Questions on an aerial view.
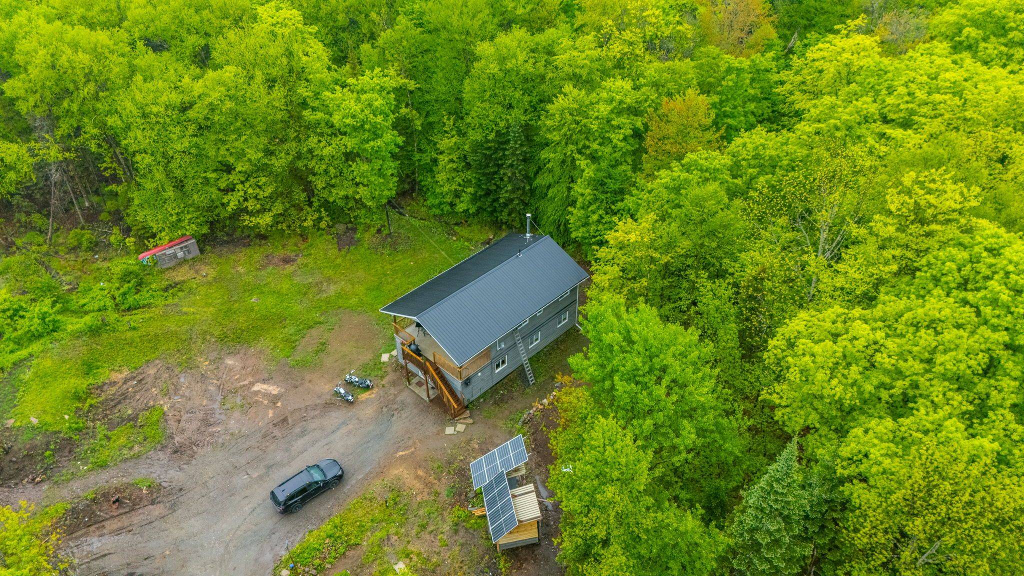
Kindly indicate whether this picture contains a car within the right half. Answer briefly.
No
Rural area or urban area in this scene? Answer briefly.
rural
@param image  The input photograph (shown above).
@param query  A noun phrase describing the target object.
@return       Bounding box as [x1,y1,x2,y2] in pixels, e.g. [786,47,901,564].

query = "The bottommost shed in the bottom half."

[498,482,542,553]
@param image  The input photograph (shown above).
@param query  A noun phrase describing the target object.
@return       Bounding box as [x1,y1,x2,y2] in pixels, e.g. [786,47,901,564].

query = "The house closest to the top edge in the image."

[378,216,591,418]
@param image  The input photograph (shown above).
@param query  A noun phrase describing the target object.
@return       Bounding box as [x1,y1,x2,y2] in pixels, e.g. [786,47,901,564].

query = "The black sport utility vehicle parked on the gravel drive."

[268,460,344,517]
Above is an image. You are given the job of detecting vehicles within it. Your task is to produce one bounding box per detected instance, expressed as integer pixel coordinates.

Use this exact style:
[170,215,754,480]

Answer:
[333,381,356,403]
[268,460,344,517]
[344,369,371,389]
